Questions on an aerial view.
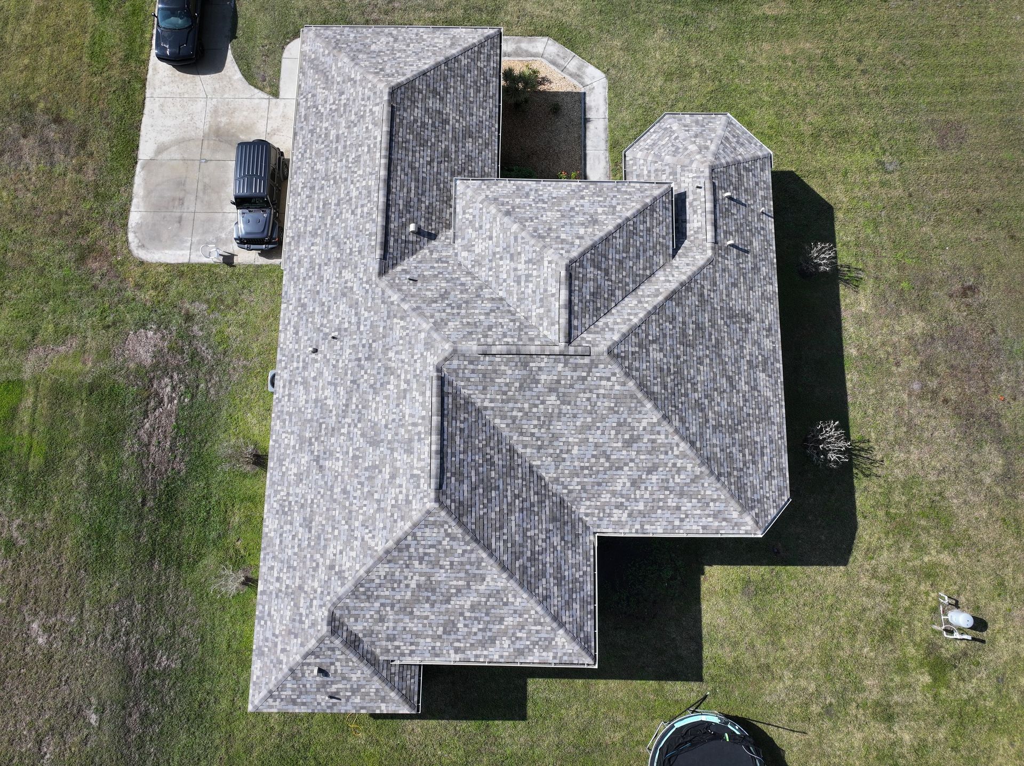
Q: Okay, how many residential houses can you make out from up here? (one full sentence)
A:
The picture shows just 1 residential house.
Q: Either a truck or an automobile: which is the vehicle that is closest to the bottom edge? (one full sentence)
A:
Looking closely, the vehicle that is closest to the bottom edge is an automobile.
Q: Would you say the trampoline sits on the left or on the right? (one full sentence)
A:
It is on the right.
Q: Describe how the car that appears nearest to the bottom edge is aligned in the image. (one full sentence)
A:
The car that appears nearest to the bottom edge is oriented from top to bottom.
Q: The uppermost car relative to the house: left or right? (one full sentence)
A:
Looking at the photo, the uppermost car lies to the left of the house.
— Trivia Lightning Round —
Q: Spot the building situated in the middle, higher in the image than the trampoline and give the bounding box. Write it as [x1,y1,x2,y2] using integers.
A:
[248,25,792,714]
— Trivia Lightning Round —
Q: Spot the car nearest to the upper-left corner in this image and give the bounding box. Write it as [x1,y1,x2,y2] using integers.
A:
[151,0,207,66]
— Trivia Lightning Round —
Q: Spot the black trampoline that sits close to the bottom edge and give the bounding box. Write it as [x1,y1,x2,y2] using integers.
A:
[645,694,764,766]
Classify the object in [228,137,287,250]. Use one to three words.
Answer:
car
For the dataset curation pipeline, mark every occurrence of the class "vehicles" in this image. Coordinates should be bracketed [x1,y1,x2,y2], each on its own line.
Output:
[151,0,207,66]
[228,137,287,250]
